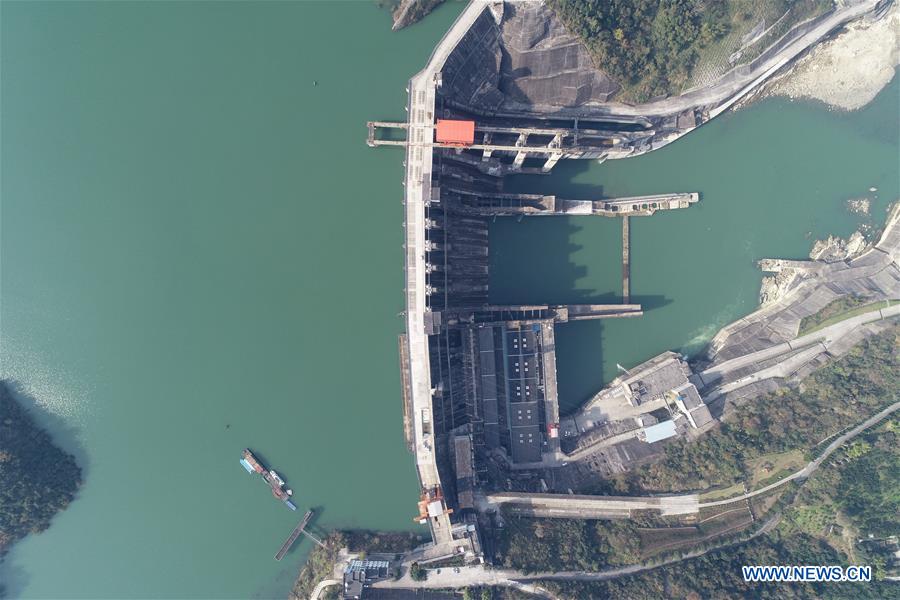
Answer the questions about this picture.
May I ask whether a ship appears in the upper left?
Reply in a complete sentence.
No, there is no ship in the upper left.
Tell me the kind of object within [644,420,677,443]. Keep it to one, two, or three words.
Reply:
shed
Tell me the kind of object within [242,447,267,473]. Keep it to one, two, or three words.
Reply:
ship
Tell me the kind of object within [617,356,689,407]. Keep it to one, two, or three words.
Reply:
building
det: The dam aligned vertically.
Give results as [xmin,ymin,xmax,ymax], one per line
[399,0,504,548]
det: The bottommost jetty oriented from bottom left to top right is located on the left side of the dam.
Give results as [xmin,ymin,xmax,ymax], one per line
[272,510,313,560]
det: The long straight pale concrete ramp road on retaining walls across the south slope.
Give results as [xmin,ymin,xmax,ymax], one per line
[487,488,700,518]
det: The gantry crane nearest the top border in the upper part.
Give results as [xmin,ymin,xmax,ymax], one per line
[436,119,475,147]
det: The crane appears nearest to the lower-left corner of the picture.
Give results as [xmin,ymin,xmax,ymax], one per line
[410,488,446,525]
